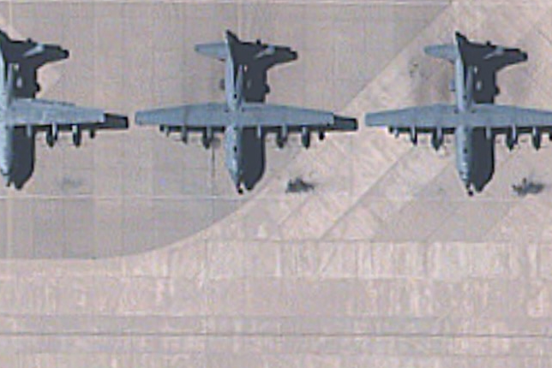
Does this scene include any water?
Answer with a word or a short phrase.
No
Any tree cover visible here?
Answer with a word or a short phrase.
No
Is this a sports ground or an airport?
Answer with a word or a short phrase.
airport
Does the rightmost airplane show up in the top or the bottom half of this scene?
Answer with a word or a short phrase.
top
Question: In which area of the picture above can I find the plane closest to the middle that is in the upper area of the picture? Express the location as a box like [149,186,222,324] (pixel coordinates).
[134,29,333,193]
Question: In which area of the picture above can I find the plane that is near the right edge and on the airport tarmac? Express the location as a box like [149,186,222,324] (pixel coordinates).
[365,30,552,194]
